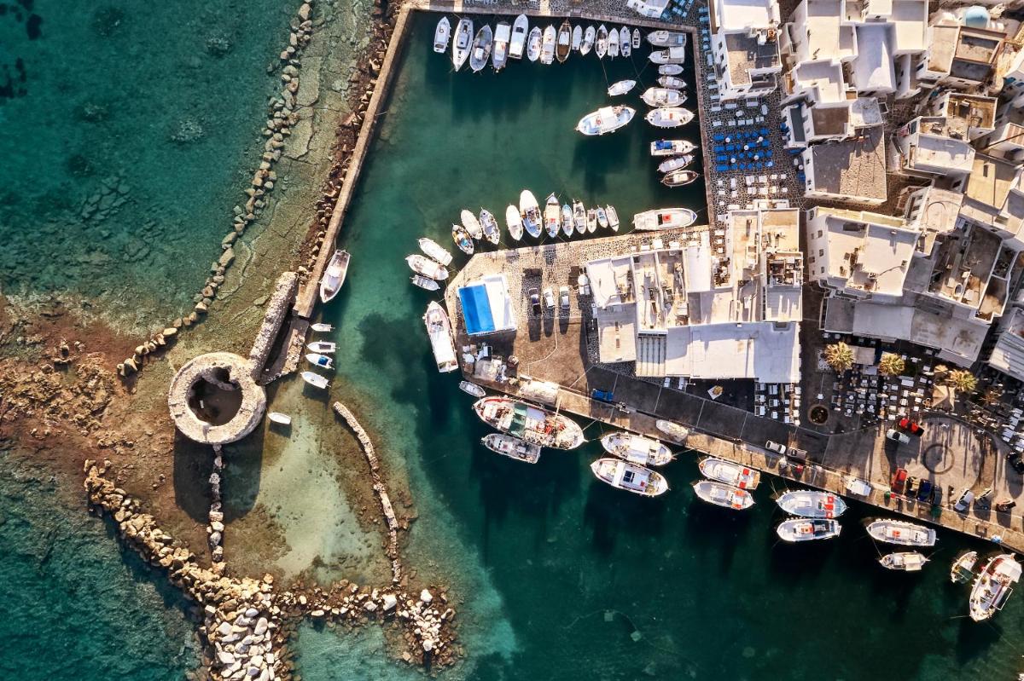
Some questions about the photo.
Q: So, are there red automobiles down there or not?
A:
Yes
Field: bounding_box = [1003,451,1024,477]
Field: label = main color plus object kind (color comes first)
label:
black car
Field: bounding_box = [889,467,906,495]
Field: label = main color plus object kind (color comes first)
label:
red car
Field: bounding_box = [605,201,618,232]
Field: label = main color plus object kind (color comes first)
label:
white boat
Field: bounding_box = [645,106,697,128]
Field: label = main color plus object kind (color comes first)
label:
white boat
